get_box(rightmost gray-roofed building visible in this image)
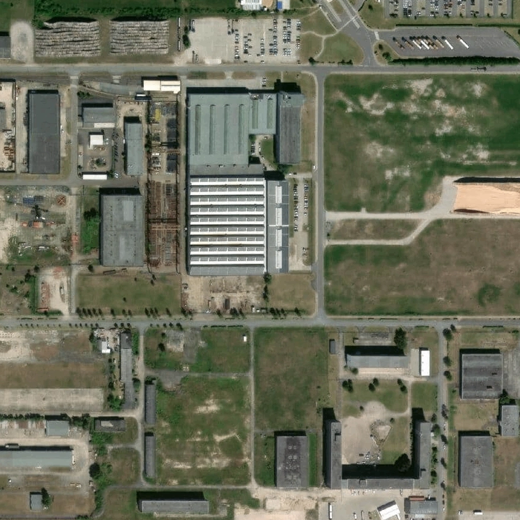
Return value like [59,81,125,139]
[500,406,519,436]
